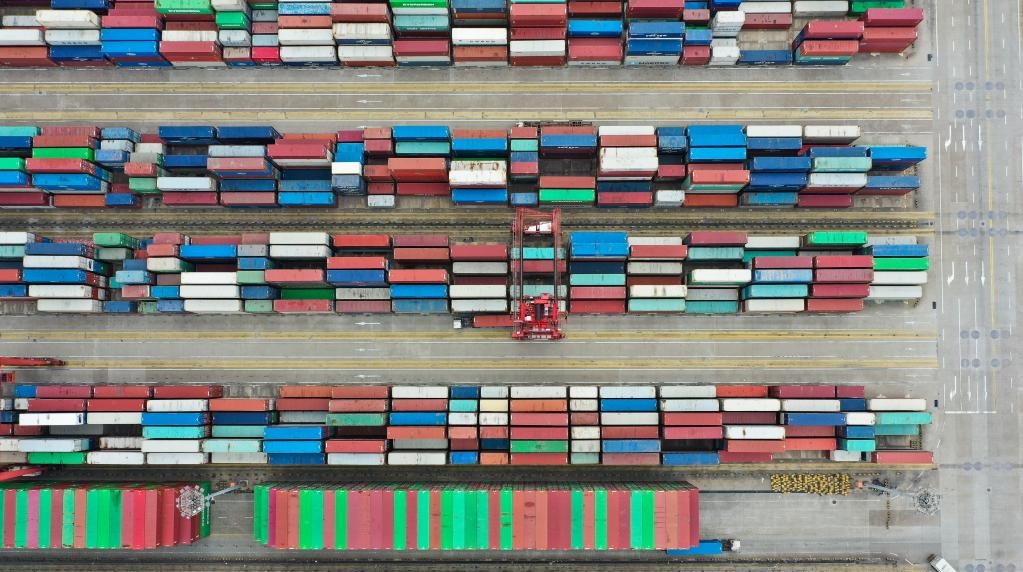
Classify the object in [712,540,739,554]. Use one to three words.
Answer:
vehicle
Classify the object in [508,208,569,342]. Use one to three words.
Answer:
container crane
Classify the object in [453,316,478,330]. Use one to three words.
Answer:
vehicle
